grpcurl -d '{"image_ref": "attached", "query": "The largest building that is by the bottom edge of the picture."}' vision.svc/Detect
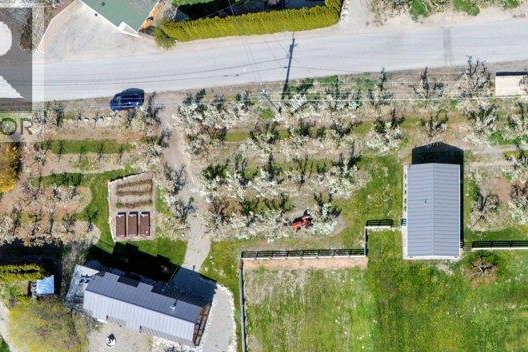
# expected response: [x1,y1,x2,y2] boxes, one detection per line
[79,272,218,350]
